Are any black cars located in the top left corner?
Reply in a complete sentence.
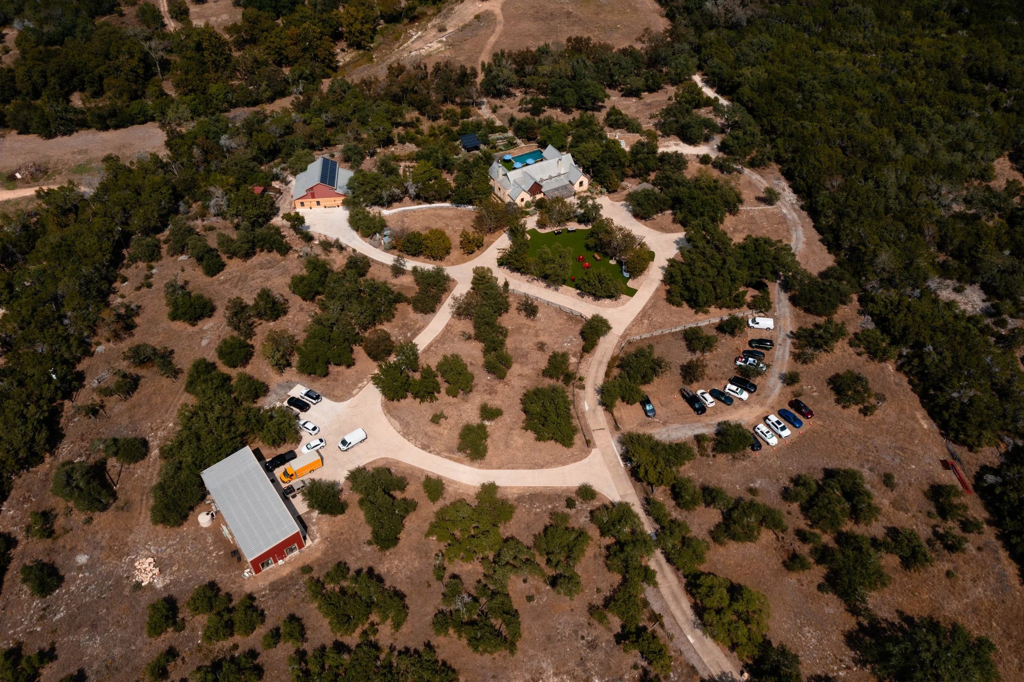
No, looking in the top left corner, there is no black car.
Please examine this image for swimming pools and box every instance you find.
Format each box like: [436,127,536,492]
[510,148,543,163]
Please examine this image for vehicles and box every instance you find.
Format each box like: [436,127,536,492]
[788,397,815,418]
[281,450,323,483]
[731,374,757,393]
[747,318,776,331]
[723,383,749,401]
[695,389,718,408]
[753,423,779,445]
[338,426,370,452]
[264,449,299,472]
[749,338,775,350]
[709,389,734,406]
[764,414,792,438]
[680,387,706,412]
[297,421,322,436]
[777,408,804,428]
[742,427,764,450]
[280,476,314,499]
[300,437,328,455]
[641,396,656,416]
[285,396,312,412]
[298,388,323,403]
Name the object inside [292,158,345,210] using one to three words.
building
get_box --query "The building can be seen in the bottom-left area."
[200,447,305,576]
